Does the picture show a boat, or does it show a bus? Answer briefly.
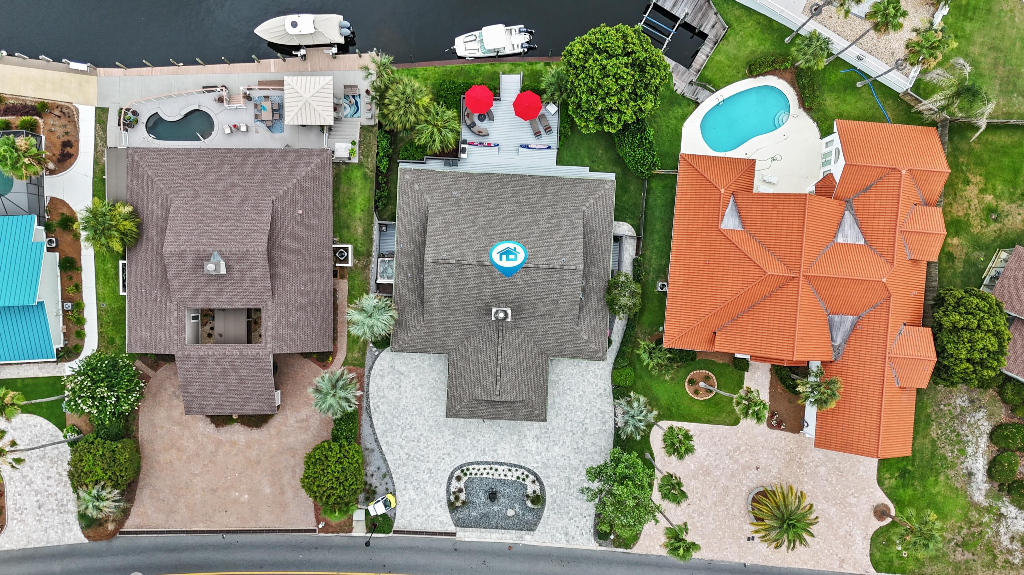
boat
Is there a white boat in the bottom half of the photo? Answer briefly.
No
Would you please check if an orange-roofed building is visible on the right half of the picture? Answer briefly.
Yes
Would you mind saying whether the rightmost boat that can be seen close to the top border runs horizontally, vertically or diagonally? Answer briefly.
horizontally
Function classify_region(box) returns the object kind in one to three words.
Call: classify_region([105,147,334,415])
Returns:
house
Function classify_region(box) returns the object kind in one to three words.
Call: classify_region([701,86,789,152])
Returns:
swimming pool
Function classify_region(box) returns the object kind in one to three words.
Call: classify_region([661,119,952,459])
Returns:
house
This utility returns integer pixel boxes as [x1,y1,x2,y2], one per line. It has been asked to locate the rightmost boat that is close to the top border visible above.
[447,21,540,58]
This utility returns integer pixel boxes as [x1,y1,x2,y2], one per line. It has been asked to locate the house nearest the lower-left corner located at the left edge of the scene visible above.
[0,214,68,364]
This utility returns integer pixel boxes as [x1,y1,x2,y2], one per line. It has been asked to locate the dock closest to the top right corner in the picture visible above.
[654,0,728,96]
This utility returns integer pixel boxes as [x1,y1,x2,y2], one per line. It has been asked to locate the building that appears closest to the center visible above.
[389,166,616,423]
